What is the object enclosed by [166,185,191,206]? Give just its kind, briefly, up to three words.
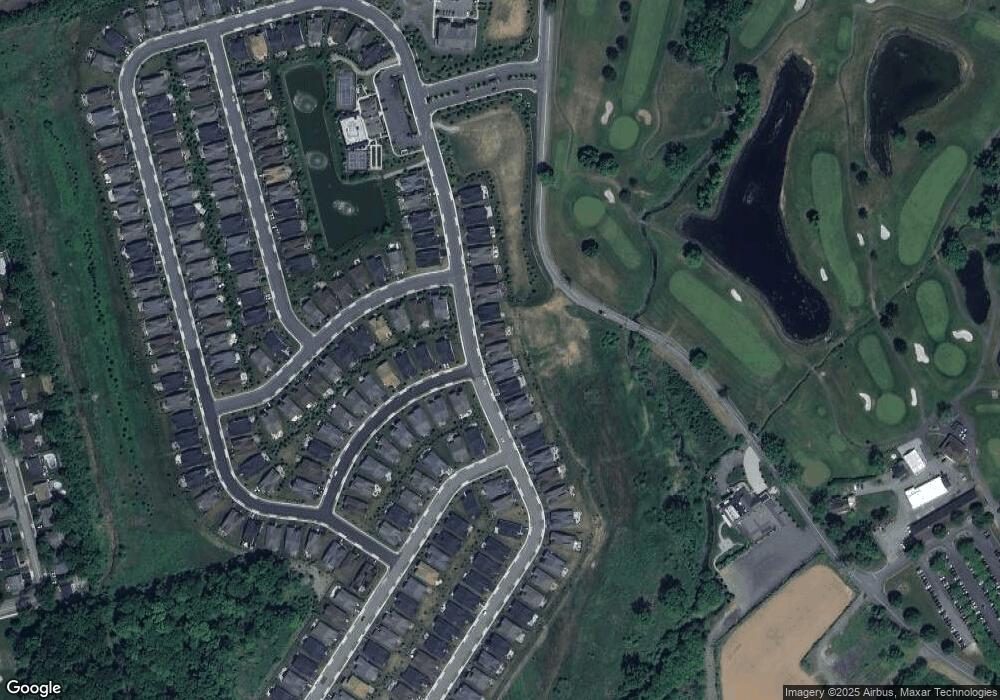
house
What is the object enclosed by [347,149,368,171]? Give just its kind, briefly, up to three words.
sports court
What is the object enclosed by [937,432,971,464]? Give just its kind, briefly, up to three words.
building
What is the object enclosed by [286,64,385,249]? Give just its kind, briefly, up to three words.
pond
